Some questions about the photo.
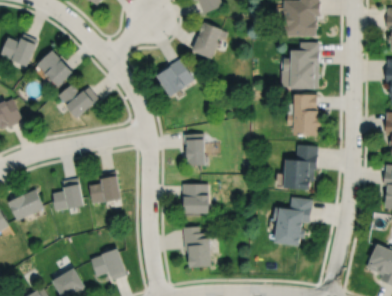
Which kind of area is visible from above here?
residential area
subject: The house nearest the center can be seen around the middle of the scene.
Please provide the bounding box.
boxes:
[184,132,206,166]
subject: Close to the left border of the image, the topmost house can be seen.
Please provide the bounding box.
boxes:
[0,31,38,68]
